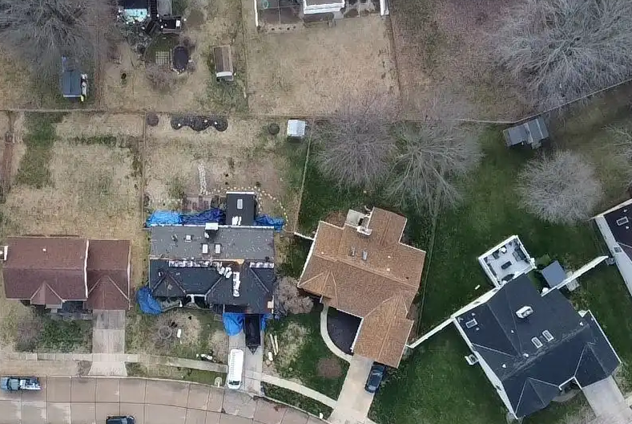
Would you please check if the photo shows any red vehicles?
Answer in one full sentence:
No, I can see no red vehicle in this picture.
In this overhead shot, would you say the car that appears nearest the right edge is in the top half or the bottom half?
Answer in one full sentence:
It is in the bottom half that the car that appears nearest the right edge appears.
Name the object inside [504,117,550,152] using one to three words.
shed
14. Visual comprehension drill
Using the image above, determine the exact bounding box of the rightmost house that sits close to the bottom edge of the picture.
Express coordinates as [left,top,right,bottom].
[453,276,619,418]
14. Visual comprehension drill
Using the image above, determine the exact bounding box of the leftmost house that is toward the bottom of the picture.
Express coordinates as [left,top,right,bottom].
[0,236,130,310]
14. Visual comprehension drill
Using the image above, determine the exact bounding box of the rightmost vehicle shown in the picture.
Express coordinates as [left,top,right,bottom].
[364,362,384,392]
